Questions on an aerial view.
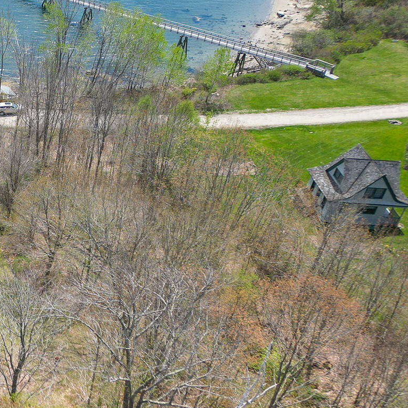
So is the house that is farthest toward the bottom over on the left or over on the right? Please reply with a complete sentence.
The house that is farthest toward the bottom is on the right side of the image.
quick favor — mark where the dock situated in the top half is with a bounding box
[44,0,347,83]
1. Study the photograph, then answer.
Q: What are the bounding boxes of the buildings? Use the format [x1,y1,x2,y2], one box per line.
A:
[0,82,19,103]
[304,143,408,228]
